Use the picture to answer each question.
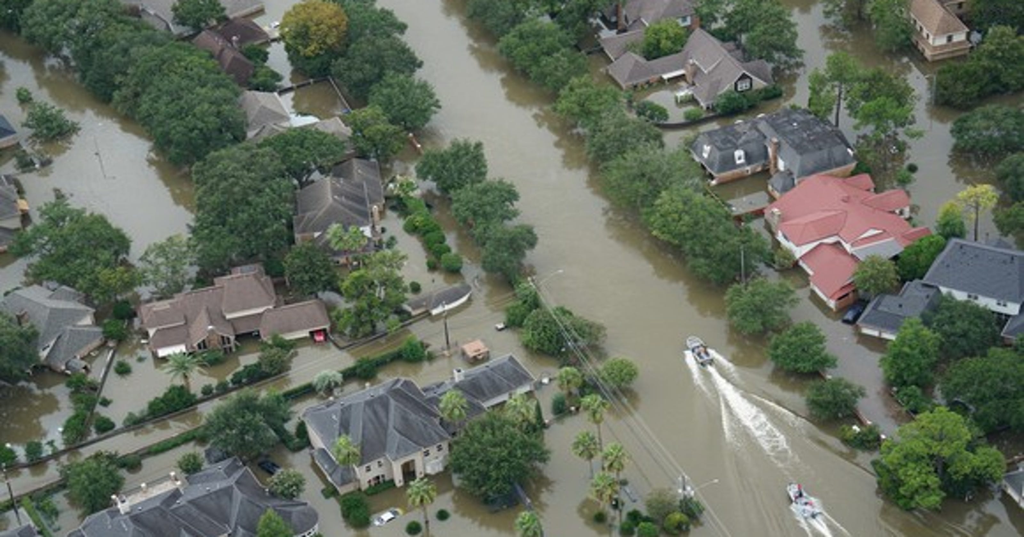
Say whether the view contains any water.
Yes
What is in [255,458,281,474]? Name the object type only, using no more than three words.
car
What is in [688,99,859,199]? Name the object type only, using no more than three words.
house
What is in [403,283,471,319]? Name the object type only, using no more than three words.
building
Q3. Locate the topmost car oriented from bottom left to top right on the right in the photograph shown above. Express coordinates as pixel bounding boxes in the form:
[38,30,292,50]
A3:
[841,302,867,323]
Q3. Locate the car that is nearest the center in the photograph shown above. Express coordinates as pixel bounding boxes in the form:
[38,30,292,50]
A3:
[493,322,512,334]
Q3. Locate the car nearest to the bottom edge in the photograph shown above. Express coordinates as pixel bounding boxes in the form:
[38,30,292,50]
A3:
[371,506,405,528]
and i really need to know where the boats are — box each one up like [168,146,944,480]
[786,482,825,520]
[687,336,720,370]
